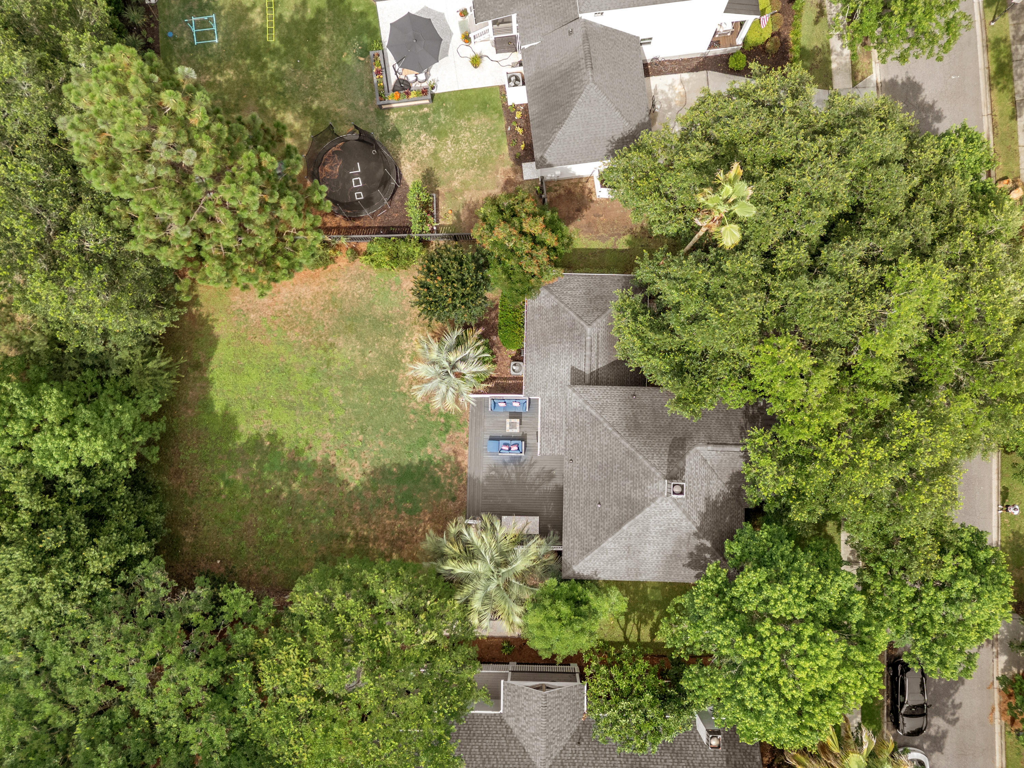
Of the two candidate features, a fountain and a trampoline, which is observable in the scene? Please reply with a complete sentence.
Of the two, only a trampoline appears.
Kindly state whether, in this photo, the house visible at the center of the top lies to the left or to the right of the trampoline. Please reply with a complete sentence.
Looking at the photo, the house visible at the center of the top lies to the right of the trampoline.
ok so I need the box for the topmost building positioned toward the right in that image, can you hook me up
[470,0,764,178]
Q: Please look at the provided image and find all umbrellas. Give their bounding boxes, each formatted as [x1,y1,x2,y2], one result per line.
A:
[386,12,442,88]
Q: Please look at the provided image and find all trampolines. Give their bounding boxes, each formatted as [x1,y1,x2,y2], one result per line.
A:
[303,122,395,216]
